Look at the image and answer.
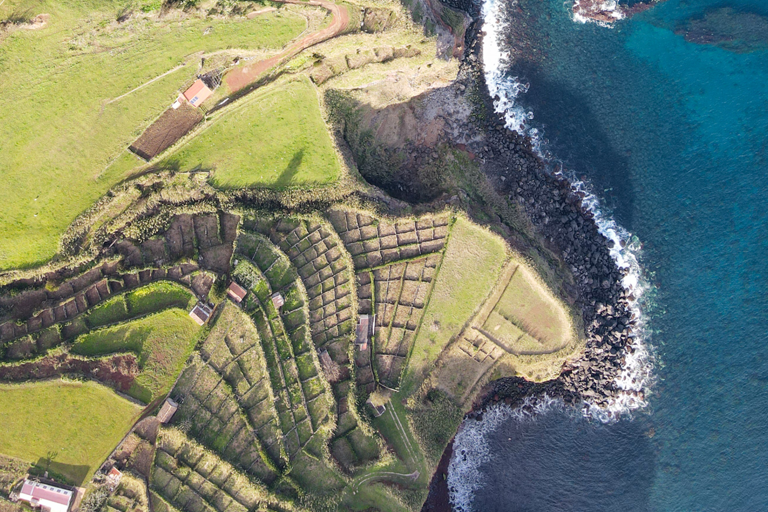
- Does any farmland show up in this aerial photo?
Yes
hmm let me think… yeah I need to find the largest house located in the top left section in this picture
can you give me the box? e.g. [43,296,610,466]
[184,79,212,107]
